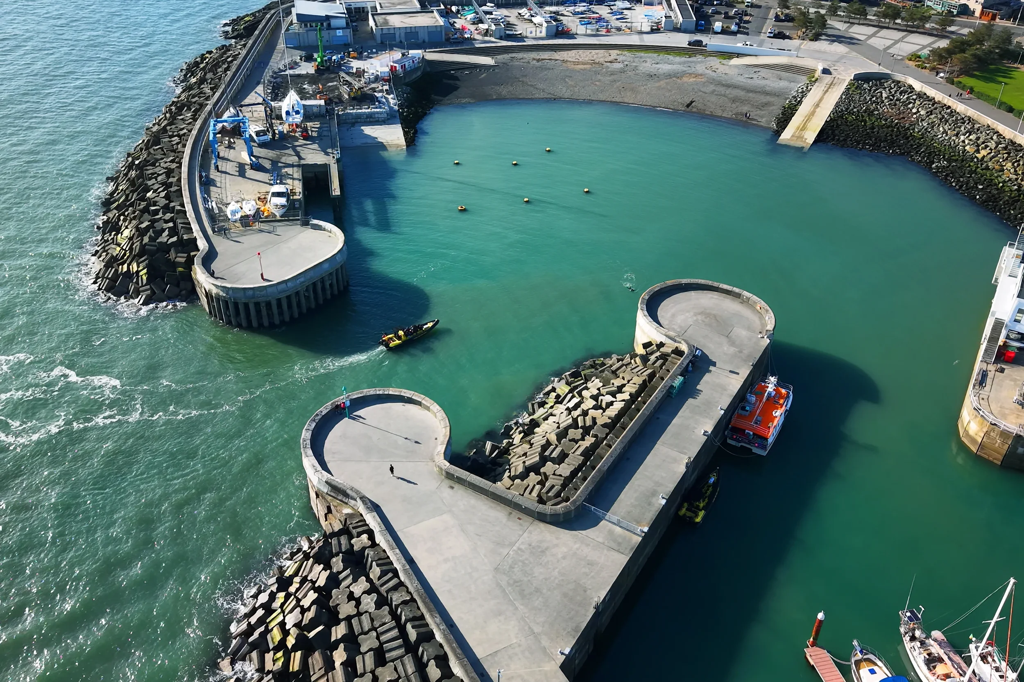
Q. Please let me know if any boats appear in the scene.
Yes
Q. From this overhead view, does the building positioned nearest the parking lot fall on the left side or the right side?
right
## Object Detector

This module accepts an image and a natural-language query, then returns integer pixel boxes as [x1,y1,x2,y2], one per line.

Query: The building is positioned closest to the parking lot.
[667,0,698,32]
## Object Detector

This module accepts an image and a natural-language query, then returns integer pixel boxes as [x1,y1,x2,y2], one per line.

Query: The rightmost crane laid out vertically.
[308,15,331,71]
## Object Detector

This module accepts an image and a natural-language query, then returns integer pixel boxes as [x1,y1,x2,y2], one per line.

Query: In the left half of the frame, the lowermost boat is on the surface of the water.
[375,314,440,350]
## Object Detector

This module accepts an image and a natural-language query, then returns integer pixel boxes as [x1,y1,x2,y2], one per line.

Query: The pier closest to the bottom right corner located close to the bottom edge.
[802,647,843,682]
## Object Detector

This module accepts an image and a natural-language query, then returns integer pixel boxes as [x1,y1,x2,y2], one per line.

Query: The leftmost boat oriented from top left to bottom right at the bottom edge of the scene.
[855,646,907,682]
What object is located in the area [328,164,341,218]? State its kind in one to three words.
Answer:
pier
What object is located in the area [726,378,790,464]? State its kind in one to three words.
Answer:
boat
